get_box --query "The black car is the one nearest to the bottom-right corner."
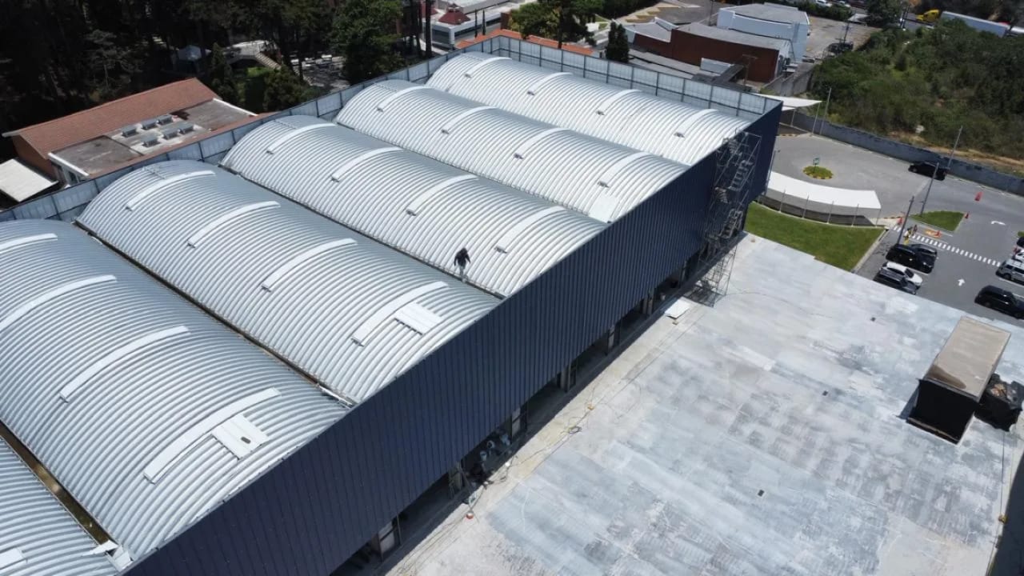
[975,280,1024,315]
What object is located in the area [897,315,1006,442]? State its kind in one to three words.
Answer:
shipping container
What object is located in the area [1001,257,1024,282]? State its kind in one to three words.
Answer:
vehicle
